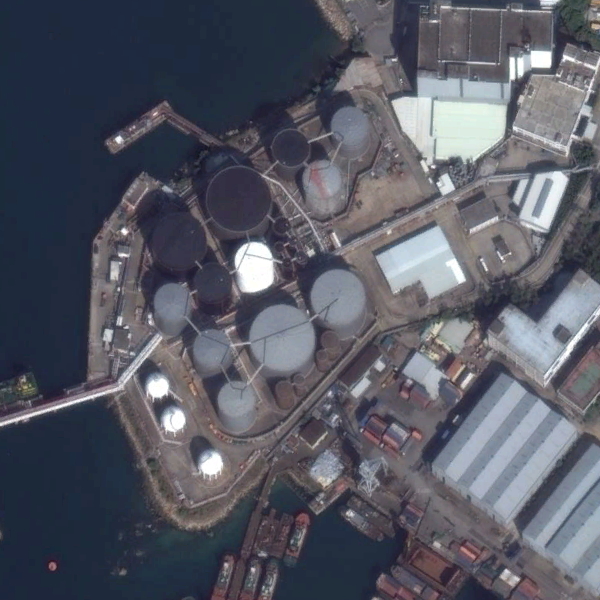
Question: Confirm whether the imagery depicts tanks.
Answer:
Yes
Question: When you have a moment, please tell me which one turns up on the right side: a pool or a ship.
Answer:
ship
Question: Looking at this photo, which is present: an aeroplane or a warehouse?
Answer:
warehouse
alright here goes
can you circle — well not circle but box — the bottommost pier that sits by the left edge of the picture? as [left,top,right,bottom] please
[0,371,121,427]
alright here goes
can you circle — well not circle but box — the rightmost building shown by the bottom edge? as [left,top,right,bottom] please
[521,442,600,599]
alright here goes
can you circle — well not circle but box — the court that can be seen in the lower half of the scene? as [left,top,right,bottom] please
[558,345,600,414]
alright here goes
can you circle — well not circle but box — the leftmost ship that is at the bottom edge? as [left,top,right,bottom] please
[210,554,233,600]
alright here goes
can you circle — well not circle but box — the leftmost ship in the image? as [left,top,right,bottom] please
[0,374,39,405]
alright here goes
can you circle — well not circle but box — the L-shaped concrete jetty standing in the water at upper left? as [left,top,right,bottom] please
[105,101,224,154]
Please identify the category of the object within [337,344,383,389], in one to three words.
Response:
shed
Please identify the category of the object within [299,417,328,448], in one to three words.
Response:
house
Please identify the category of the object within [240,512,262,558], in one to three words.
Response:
pier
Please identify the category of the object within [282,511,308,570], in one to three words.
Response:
ship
